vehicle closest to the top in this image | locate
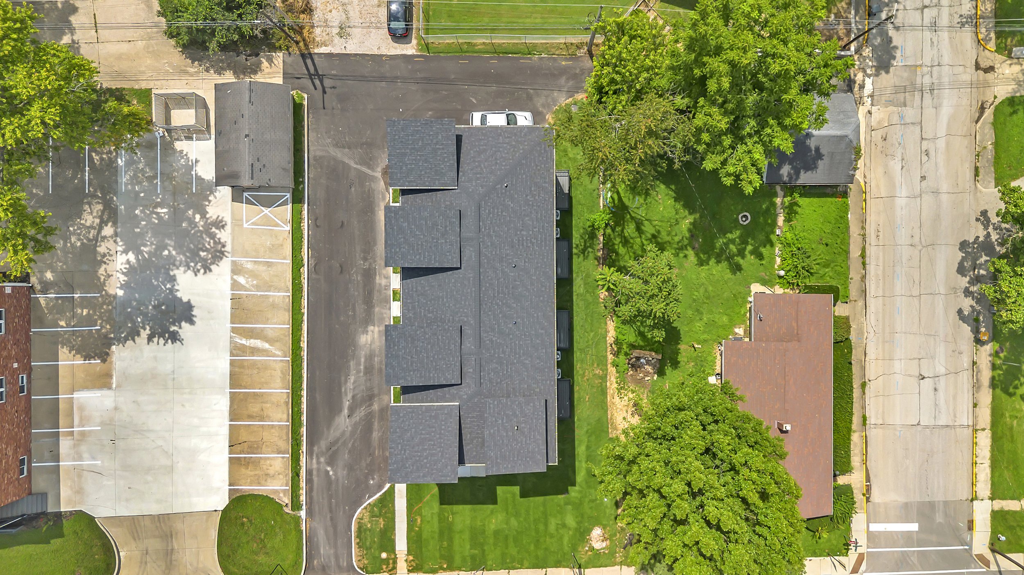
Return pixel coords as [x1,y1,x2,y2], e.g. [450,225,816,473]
[387,0,411,39]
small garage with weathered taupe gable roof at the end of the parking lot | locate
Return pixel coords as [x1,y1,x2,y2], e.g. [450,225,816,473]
[215,79,294,187]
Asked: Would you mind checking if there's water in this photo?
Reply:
No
